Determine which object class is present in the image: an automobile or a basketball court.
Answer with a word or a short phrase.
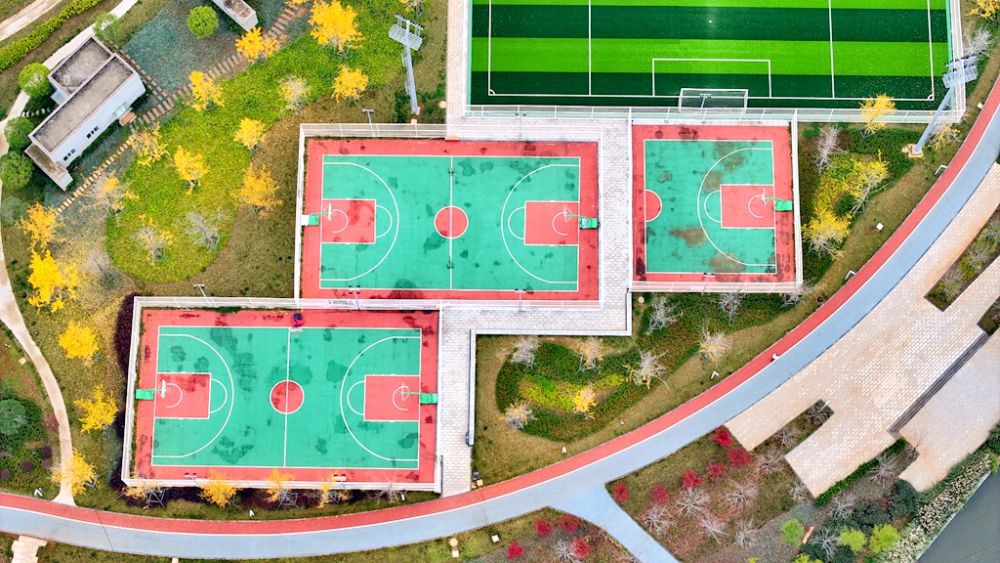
basketball court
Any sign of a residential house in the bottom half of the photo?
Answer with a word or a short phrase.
No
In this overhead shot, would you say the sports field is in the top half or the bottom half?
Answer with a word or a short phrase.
top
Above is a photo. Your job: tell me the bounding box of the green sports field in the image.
[467,0,957,120]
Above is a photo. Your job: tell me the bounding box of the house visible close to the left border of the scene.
[25,37,146,187]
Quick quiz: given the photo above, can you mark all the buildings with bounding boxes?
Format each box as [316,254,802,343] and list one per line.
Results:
[25,37,146,187]
[208,0,258,27]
